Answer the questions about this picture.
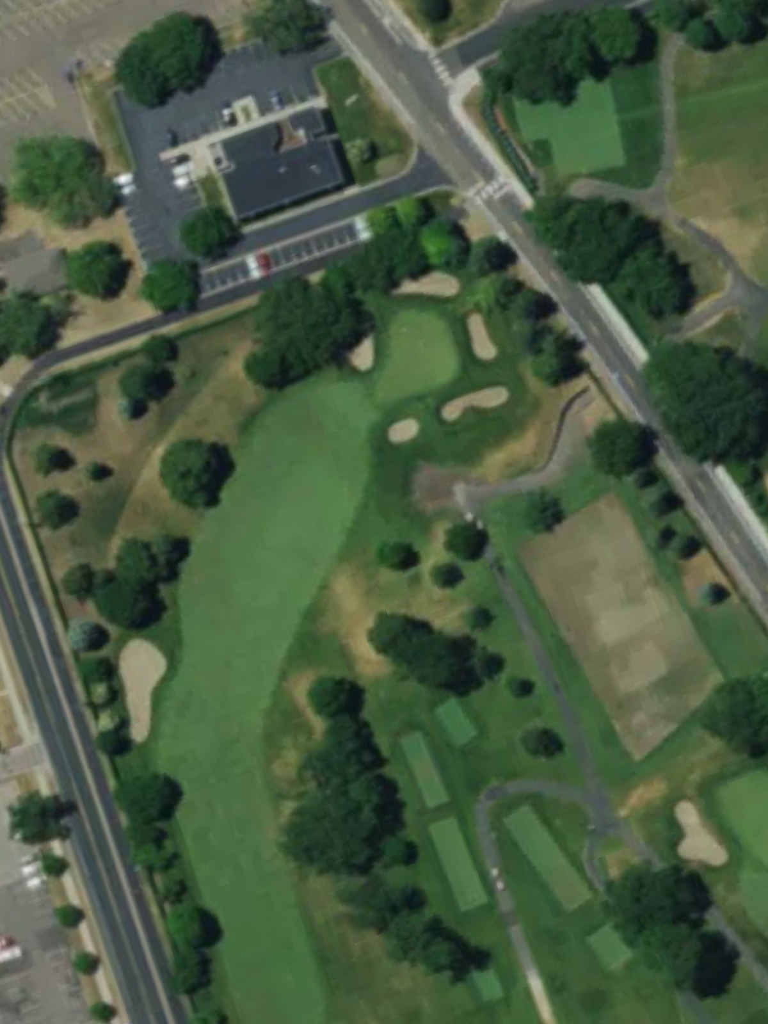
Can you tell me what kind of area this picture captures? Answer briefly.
golf course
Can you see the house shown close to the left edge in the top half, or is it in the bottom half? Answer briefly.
top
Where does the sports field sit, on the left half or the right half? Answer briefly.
right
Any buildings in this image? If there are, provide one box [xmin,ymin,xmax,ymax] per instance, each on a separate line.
[0,228,68,302]
[208,105,343,217]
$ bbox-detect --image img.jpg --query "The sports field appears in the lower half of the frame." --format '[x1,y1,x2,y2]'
[517,493,723,760]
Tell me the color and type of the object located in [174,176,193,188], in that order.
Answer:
white vehicle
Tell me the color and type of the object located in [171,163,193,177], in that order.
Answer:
white vehicle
